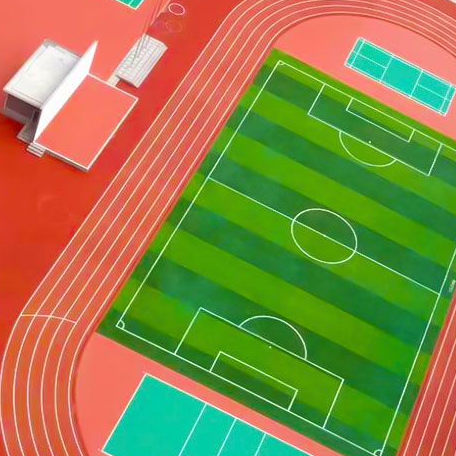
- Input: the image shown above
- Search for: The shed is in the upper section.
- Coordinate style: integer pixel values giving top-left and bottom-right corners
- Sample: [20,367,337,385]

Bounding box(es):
[0,37,83,146]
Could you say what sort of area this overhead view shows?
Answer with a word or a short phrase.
sports ground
